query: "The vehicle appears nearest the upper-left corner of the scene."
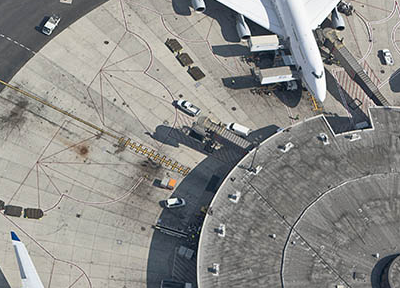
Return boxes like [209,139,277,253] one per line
[42,14,61,34]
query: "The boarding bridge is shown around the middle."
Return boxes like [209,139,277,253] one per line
[188,119,255,158]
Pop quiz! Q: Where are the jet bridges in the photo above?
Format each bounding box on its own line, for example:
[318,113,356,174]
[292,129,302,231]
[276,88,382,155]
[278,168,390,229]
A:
[314,34,394,108]
[188,119,255,158]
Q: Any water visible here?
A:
No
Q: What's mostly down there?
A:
paved ground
